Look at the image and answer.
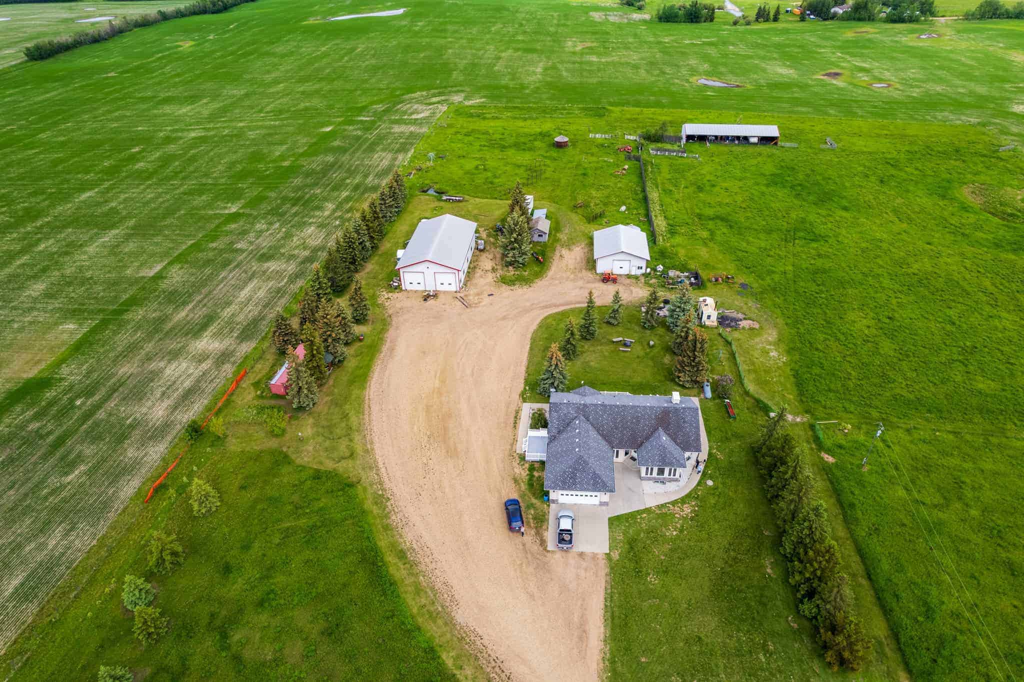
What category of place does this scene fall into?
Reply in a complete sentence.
This looks like farmland.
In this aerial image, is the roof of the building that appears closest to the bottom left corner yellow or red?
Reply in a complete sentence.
The color of the roof of the building that appears closest to the bottom left corner is red.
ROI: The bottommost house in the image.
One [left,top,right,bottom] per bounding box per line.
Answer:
[516,387,702,507]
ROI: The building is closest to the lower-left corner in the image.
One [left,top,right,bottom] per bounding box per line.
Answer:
[266,367,290,399]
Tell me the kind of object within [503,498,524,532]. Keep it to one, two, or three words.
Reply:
car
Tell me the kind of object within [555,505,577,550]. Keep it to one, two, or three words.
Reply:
truck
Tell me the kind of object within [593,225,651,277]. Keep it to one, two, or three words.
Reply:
building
